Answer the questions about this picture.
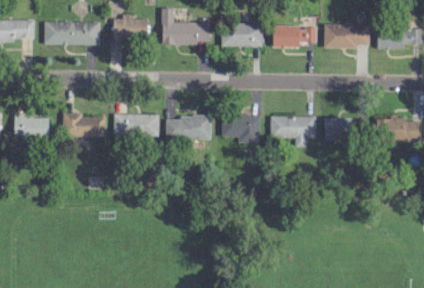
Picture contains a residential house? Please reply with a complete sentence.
Yes, there's a residential house here.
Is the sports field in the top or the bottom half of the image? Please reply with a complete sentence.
Seen from above, the sports field lies in the bottom half of the view.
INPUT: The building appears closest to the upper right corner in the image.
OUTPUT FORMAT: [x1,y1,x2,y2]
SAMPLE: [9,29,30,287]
[378,28,422,49]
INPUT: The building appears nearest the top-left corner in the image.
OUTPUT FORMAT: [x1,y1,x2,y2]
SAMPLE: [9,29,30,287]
[0,19,35,44]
